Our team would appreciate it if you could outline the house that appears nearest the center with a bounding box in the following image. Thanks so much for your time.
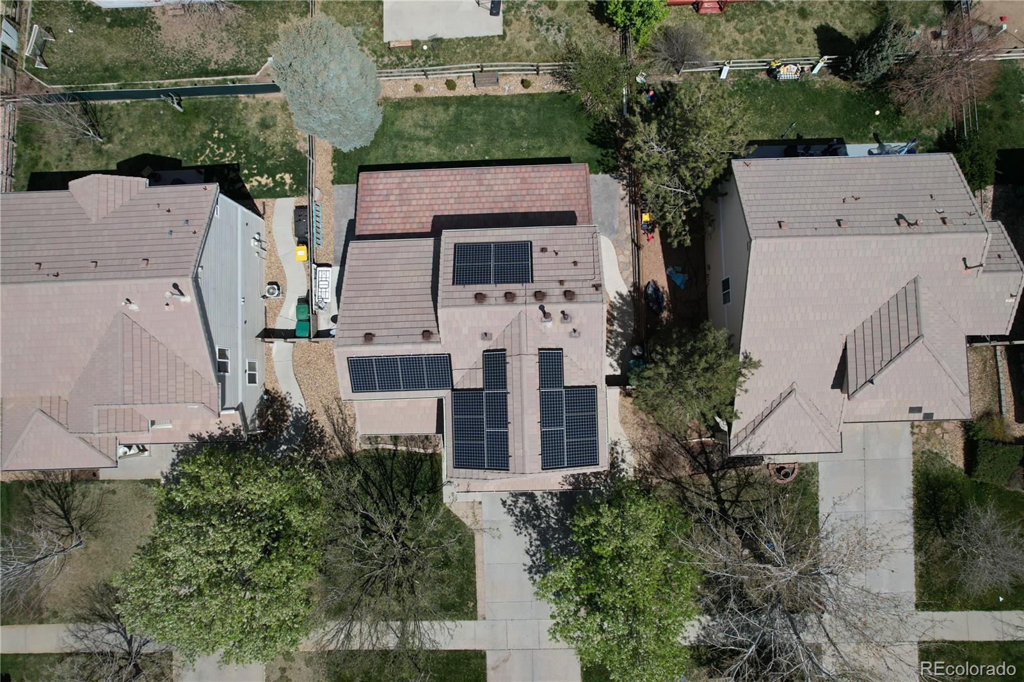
[335,162,612,496]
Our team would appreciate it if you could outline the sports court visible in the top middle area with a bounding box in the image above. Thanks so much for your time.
[384,0,503,41]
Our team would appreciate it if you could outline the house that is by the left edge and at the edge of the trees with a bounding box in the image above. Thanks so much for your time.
[0,171,267,474]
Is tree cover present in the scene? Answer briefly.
Yes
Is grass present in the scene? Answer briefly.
Yes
